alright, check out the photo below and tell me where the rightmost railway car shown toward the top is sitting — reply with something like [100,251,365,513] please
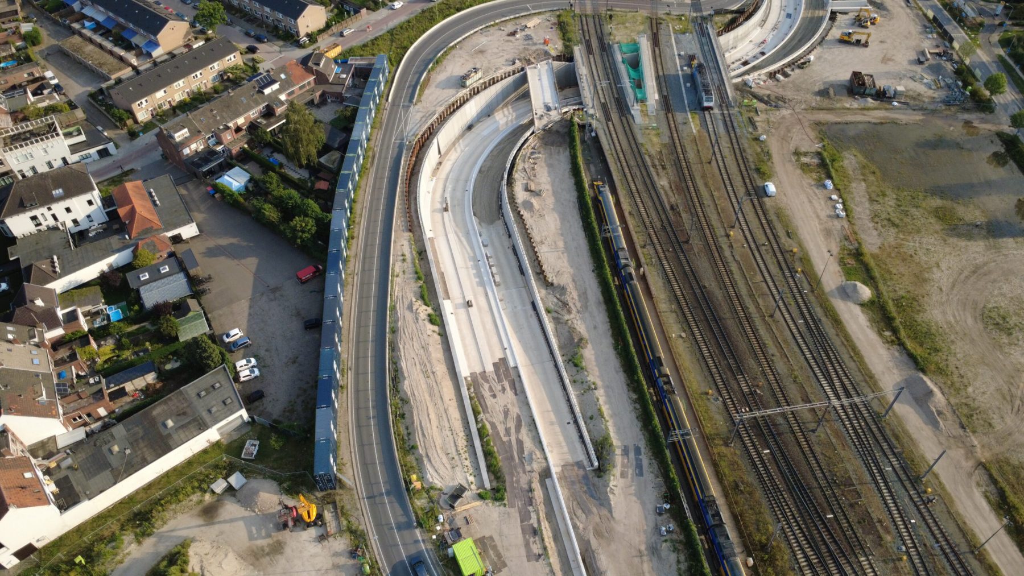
[691,58,714,108]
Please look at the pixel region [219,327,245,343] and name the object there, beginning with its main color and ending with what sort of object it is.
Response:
white car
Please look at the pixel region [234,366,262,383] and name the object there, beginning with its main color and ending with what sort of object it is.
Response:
white car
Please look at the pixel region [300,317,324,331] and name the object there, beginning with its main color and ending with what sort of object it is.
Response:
black car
